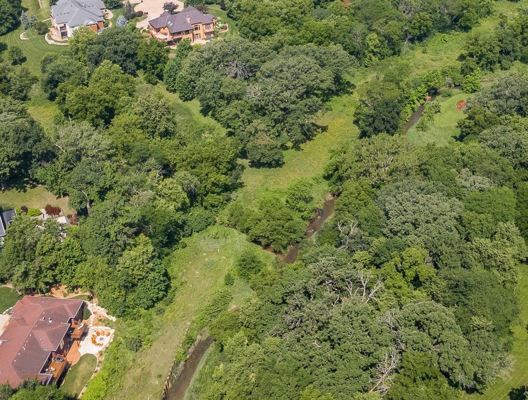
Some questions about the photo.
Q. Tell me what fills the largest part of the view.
trees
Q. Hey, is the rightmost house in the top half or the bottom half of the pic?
top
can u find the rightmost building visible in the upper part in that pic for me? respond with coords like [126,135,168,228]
[151,4,216,49]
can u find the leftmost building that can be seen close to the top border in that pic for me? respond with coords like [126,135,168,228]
[51,0,106,38]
